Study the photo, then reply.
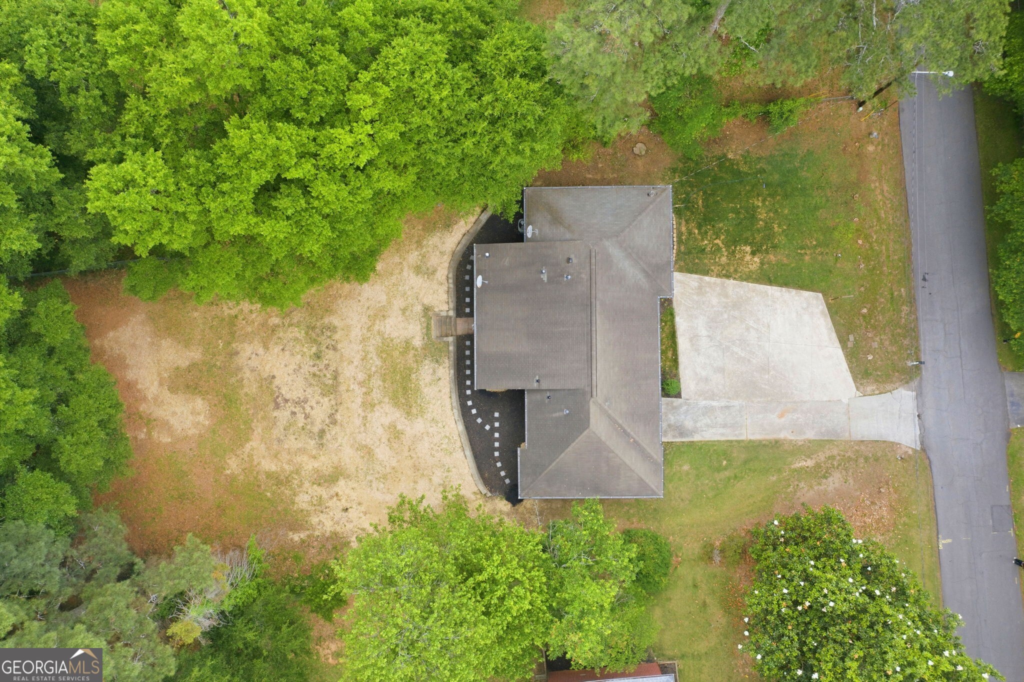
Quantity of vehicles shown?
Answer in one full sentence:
Not a single vehicle can be seen.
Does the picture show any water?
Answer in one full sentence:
No, the scene doesn't show any water.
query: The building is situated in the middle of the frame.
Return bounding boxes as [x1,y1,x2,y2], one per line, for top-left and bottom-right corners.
[472,184,675,500]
